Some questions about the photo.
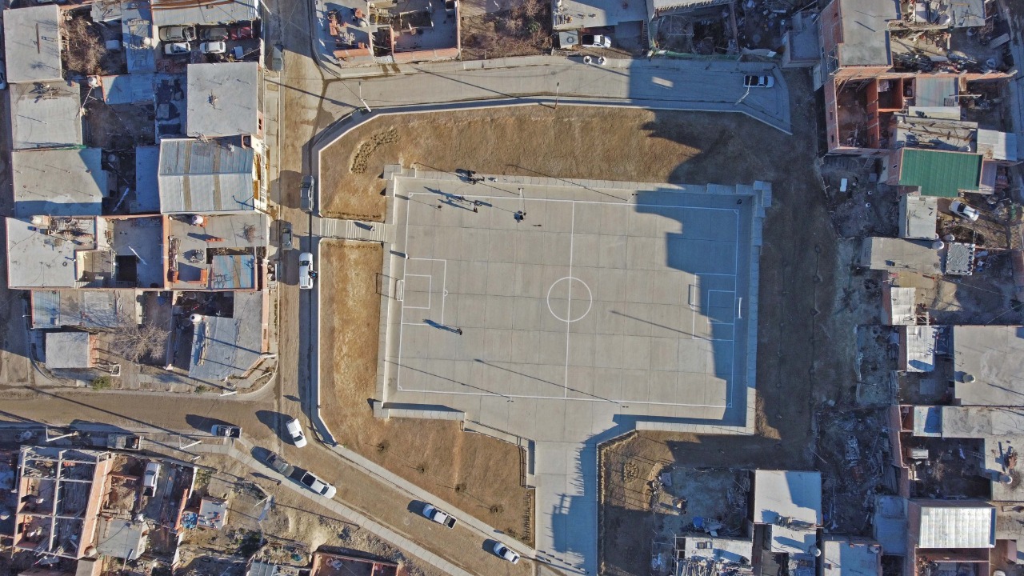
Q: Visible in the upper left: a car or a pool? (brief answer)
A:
car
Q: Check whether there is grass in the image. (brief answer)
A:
Yes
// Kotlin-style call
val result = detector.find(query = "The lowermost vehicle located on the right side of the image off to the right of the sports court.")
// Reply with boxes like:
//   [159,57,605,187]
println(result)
[944,199,982,223]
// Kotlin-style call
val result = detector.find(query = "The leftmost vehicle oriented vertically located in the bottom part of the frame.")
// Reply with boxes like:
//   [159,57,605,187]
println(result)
[143,460,163,497]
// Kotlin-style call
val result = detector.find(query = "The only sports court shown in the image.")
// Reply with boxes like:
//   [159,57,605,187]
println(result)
[385,174,750,569]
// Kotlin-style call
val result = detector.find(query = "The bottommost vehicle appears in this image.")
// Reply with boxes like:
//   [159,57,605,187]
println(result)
[491,541,522,563]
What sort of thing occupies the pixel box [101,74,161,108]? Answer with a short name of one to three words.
shed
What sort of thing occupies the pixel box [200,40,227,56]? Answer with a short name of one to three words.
car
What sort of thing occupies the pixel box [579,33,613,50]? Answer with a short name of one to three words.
vehicle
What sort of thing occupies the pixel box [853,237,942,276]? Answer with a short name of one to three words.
house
